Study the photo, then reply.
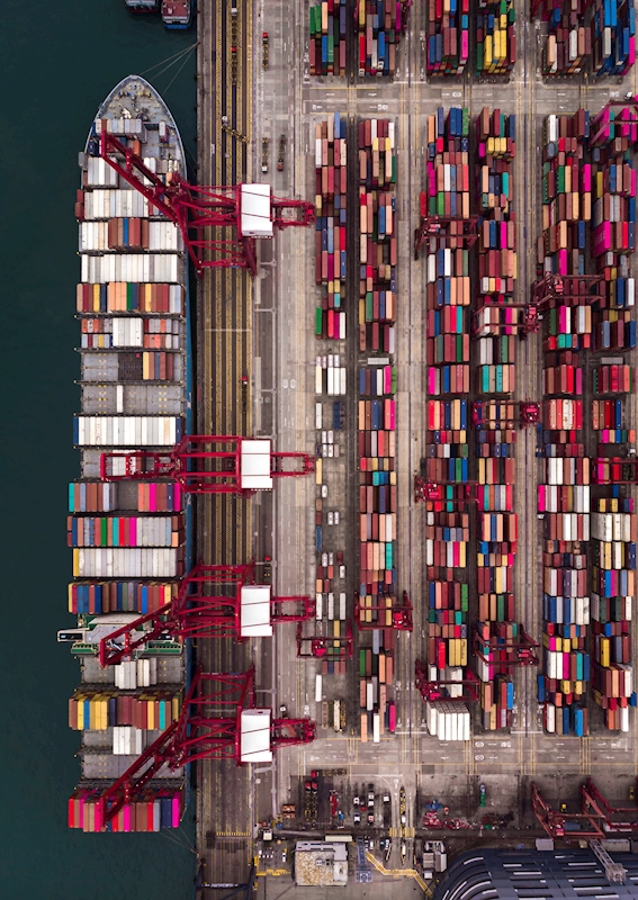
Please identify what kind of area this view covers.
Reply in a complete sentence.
What you see here is a port.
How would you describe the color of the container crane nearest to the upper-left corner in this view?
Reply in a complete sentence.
The color of the container crane nearest to the upper-left corner is red.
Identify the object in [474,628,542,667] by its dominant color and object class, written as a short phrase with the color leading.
red crane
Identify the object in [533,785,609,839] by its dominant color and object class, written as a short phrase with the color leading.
red crane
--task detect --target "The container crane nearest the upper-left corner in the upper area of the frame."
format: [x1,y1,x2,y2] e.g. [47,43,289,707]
[99,129,316,279]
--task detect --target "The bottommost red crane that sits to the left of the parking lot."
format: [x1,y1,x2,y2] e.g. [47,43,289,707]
[99,664,316,832]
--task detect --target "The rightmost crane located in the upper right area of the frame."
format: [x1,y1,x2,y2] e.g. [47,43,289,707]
[591,98,638,145]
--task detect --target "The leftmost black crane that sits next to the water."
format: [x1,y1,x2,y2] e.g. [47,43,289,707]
[188,854,259,900]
